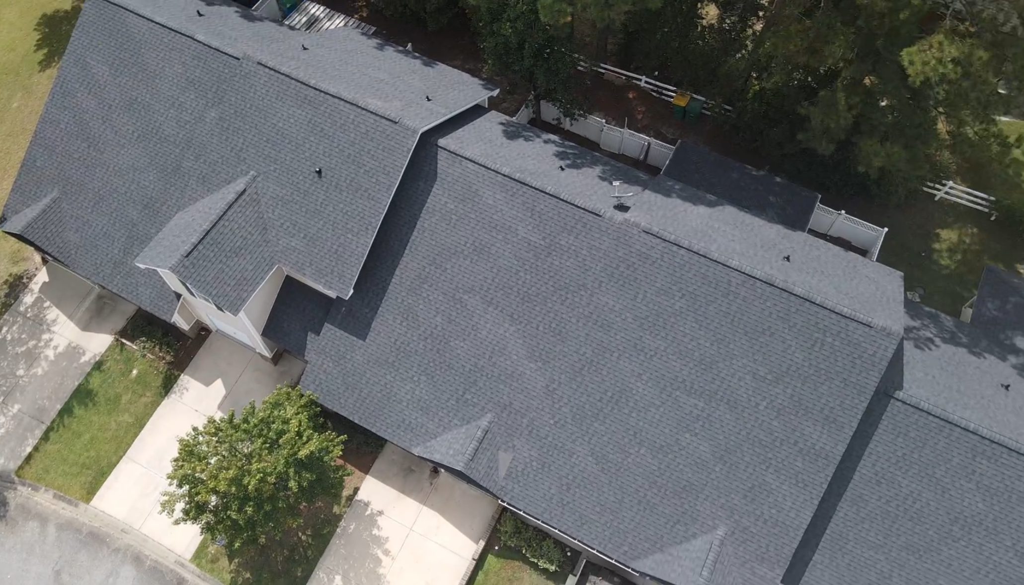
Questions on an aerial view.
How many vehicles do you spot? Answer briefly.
0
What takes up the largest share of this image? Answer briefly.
buildings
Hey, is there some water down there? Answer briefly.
No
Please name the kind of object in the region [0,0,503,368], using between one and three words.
house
